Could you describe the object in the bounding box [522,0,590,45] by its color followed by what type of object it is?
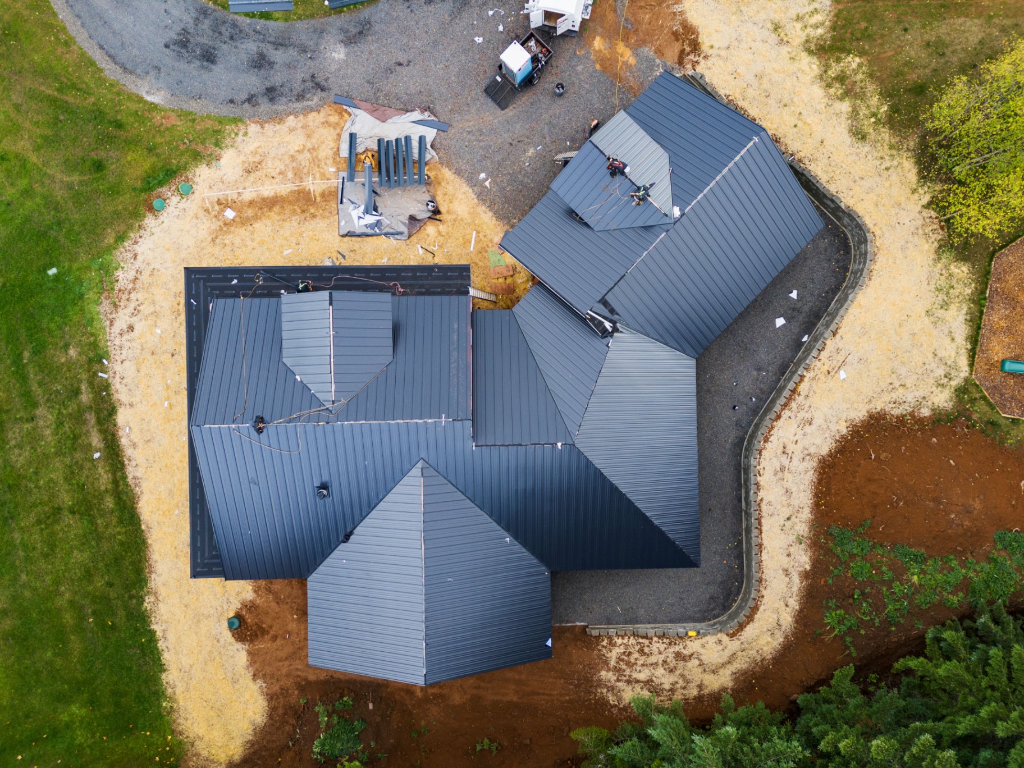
white truck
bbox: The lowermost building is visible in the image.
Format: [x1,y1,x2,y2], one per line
[184,67,826,687]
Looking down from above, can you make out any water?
No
